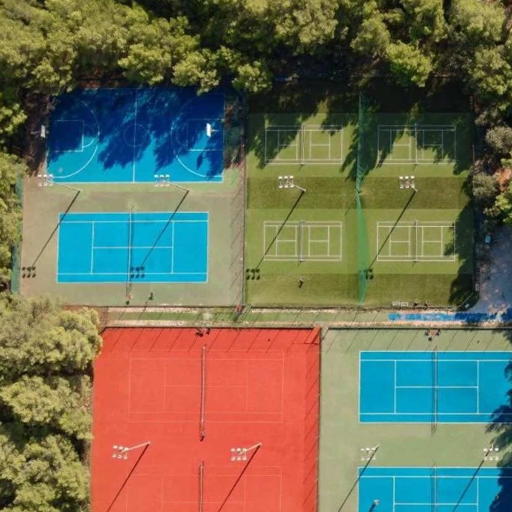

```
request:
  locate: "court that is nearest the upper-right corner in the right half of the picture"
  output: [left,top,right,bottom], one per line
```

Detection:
[378,126,456,163]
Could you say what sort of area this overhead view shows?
sports ground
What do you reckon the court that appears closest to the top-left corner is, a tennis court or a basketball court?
basketball court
